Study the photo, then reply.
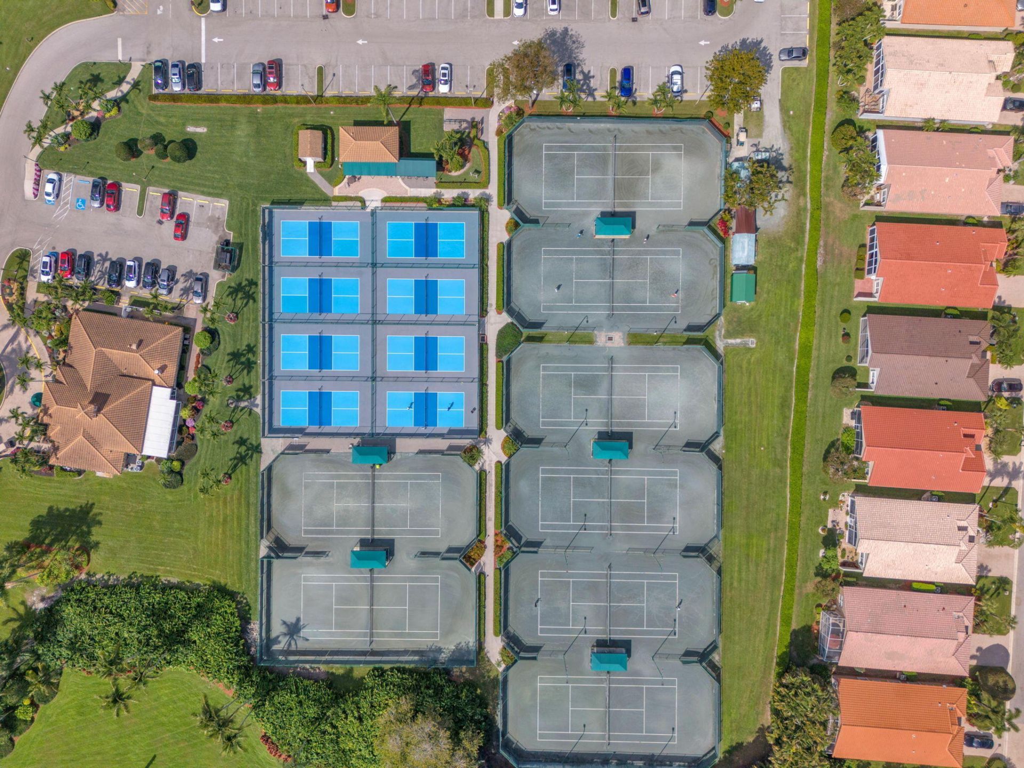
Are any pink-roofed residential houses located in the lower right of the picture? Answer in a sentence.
Yes, the scene does show a pink-roofed residential house in the lower right of the picture.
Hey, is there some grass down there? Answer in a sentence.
Yes, there is grass in the image.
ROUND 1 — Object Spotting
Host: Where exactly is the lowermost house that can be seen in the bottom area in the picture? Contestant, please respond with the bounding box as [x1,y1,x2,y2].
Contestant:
[822,674,968,768]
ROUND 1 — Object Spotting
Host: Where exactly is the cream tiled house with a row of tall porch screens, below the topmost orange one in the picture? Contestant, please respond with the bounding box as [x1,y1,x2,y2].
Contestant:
[848,36,1016,124]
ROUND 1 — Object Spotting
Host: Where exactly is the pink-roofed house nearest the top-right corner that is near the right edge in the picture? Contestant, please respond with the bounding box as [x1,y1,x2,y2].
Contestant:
[849,130,1015,217]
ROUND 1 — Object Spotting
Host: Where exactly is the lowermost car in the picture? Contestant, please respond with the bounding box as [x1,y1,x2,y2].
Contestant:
[963,733,994,748]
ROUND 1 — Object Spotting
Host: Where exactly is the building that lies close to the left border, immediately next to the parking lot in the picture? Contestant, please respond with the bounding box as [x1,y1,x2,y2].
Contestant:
[32,310,188,477]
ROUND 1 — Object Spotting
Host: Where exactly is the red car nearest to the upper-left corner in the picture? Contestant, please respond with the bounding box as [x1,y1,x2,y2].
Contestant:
[106,183,121,211]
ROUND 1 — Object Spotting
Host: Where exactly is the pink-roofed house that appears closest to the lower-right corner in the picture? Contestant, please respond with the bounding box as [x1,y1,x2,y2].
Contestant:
[803,584,976,676]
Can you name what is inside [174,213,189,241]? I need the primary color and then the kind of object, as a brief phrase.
red car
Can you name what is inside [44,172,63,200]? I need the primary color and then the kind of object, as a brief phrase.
white car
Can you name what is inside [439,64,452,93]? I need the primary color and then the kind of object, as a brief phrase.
white vehicle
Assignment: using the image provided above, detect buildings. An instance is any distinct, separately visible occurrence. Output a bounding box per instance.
[868,0,1011,31]
[803,584,976,676]
[846,314,989,400]
[727,273,756,304]
[822,674,968,768]
[32,310,188,477]
[839,406,985,492]
[841,222,1006,307]
[339,126,437,180]
[848,36,1016,124]
[299,128,326,176]
[729,234,756,266]
[849,130,1015,217]
[817,497,980,584]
